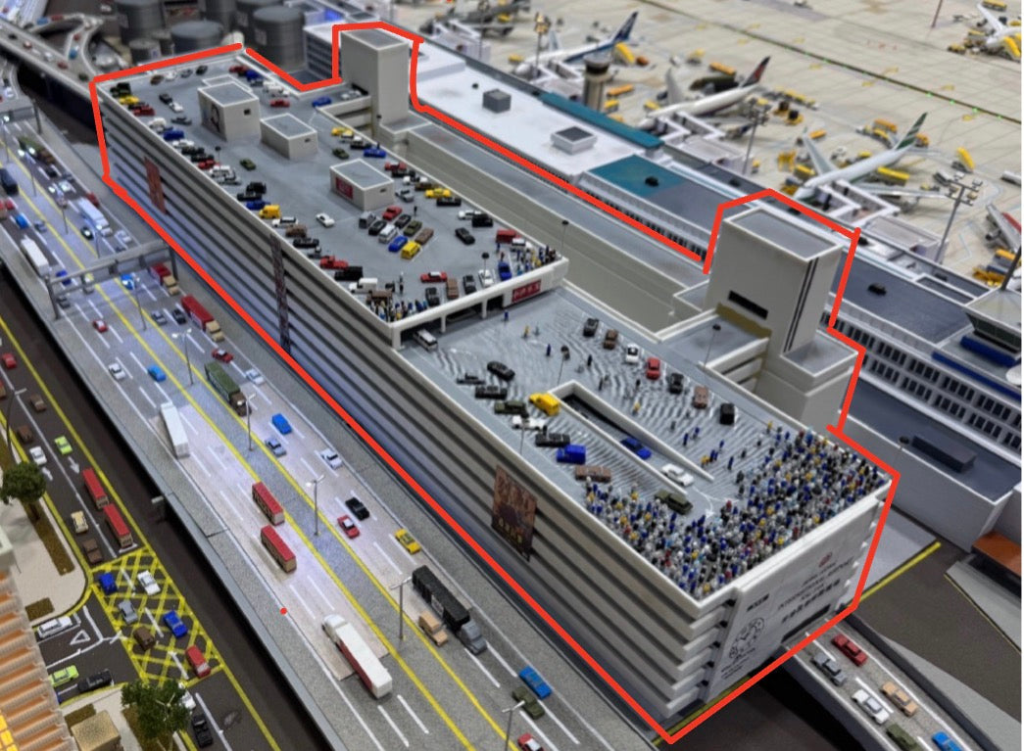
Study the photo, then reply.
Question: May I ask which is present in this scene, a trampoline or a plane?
plane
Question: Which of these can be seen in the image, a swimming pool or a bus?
bus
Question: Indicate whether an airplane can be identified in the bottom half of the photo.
No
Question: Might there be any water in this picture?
No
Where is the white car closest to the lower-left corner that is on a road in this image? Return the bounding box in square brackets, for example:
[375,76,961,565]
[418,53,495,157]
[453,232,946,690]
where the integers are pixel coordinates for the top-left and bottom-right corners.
[36,617,76,639]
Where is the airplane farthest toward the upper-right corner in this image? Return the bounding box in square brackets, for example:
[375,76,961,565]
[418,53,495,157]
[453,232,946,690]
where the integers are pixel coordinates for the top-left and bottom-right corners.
[960,8,1024,53]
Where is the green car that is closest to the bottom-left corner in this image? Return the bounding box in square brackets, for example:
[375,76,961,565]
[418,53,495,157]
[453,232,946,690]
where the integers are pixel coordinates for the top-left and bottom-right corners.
[46,665,83,683]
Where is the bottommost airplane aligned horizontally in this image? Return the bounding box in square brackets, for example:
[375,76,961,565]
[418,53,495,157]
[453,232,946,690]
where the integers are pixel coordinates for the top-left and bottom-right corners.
[778,98,984,207]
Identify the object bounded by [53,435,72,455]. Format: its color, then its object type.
green car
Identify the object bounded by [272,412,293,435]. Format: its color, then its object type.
blue vehicle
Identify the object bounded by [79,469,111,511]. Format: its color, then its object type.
red bus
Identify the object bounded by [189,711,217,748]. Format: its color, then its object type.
black truck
